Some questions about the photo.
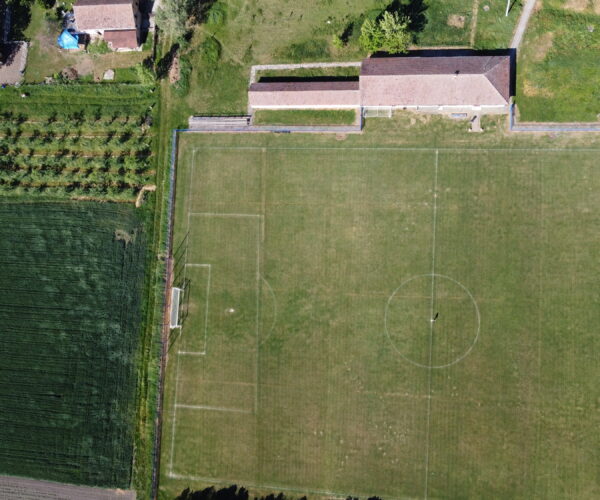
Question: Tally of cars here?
0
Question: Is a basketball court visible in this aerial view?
No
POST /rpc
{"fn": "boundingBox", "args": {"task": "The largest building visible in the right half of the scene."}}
[360,54,510,113]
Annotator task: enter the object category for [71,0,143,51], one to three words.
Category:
house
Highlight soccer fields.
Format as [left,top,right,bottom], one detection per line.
[156,111,600,500]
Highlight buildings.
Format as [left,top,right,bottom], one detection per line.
[71,0,143,51]
[360,54,510,113]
